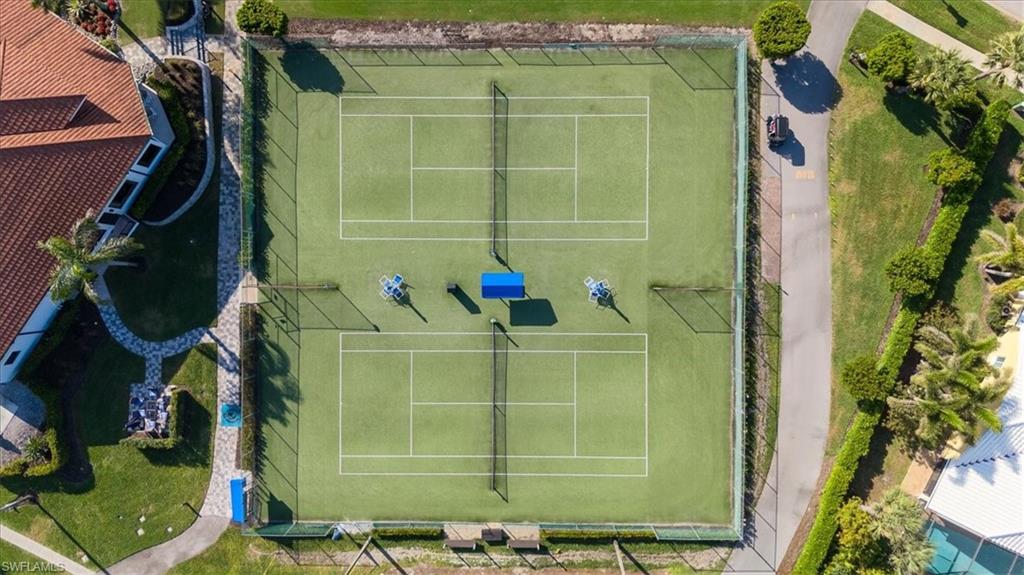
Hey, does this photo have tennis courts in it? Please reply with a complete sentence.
Yes, looking at the shot, I can spot a tennis court.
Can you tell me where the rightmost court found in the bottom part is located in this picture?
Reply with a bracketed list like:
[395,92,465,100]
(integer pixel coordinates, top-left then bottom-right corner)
[257,287,735,526]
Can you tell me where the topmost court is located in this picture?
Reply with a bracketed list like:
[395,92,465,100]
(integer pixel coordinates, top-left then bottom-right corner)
[257,48,735,287]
